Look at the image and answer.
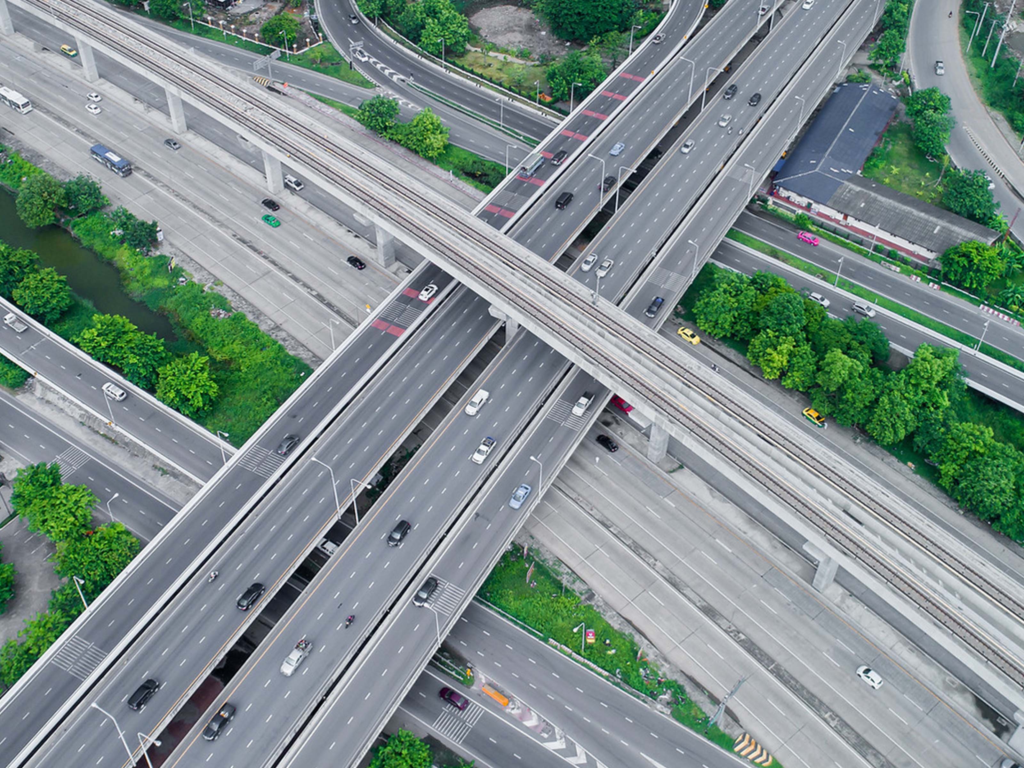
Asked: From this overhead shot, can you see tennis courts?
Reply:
No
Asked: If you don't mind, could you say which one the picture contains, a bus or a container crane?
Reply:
bus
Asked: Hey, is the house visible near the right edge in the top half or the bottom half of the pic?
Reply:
top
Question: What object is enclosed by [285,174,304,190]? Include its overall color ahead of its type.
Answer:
white vehicle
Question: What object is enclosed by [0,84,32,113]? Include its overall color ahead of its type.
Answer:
white bus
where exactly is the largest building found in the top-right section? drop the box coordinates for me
[770,84,1019,272]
